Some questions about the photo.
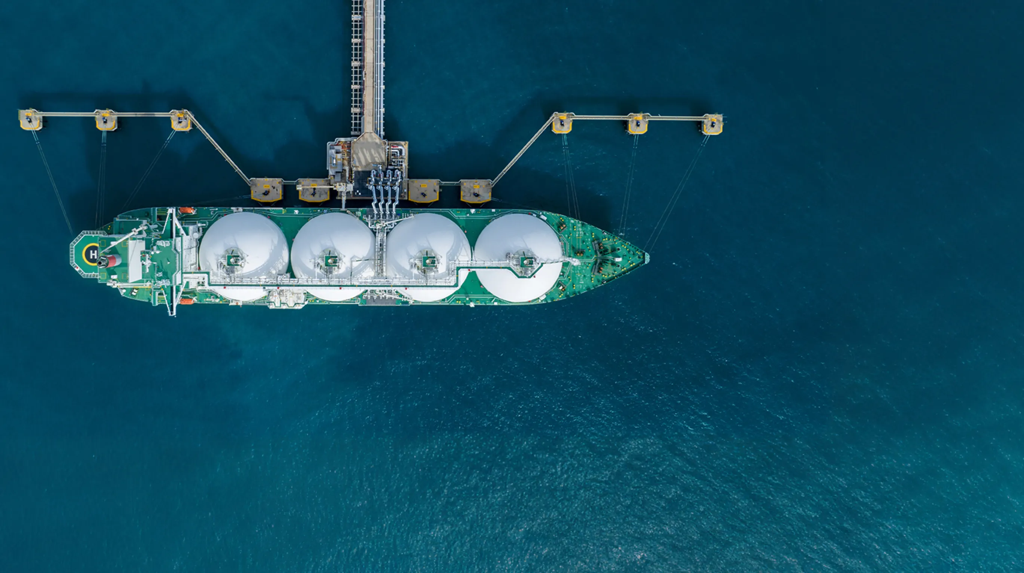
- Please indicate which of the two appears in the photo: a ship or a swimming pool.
ship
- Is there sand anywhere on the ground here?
No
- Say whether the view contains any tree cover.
No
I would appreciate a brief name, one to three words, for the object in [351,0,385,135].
pier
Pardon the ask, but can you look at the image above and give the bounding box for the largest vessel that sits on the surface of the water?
[69,206,650,317]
